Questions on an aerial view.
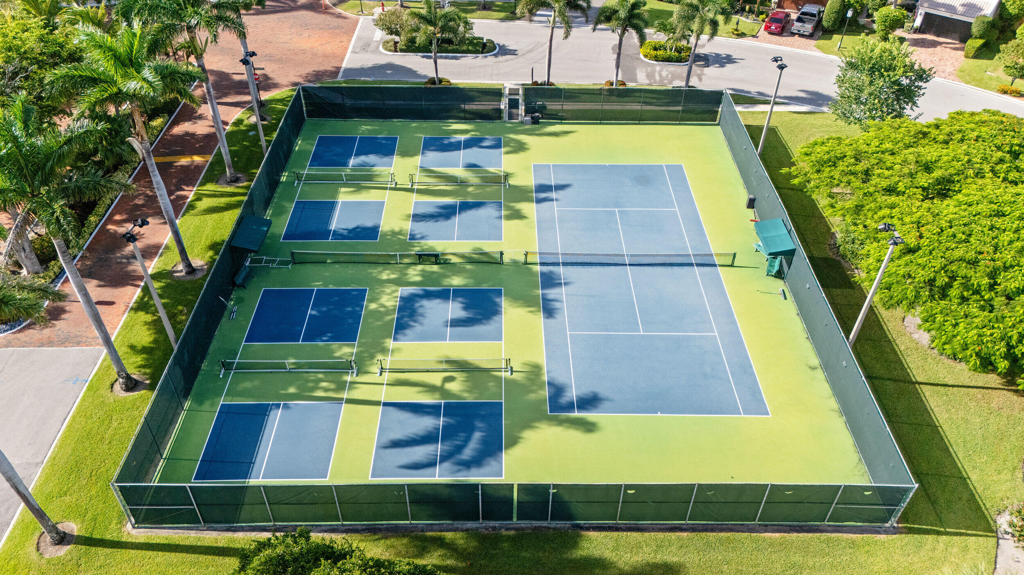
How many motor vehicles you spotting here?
2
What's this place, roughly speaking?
sports ground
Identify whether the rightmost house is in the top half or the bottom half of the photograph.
top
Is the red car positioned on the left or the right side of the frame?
right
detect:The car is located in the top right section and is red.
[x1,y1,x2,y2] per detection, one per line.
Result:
[765,10,791,32]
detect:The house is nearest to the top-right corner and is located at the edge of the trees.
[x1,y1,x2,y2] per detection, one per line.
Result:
[917,0,1004,42]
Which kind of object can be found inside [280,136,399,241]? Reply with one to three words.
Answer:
sports court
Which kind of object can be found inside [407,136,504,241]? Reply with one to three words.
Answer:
sports court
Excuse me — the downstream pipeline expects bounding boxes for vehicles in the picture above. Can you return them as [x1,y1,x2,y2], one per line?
[793,5,826,35]
[765,10,791,32]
